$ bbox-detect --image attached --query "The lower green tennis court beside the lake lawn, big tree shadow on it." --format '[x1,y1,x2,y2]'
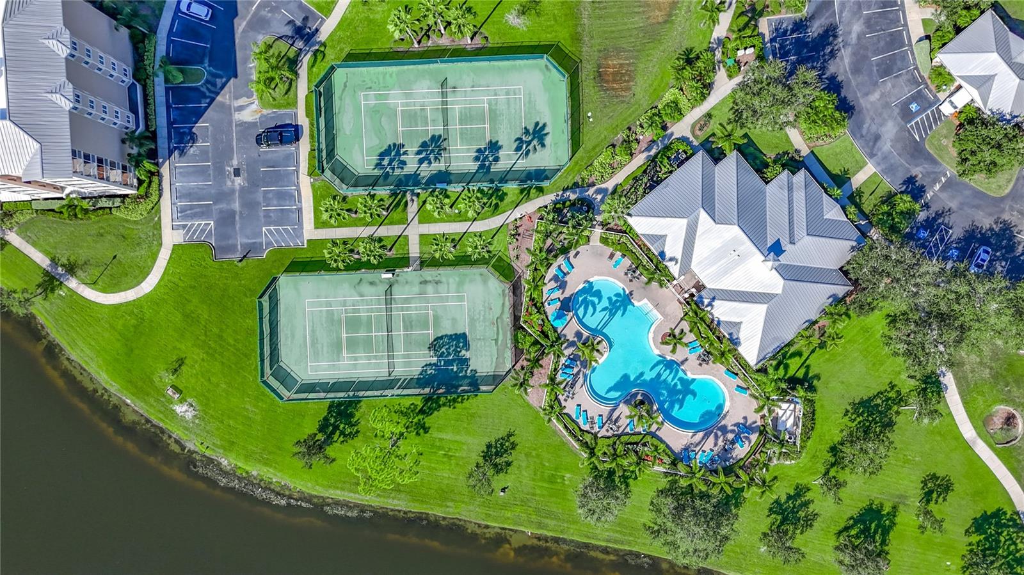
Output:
[261,268,513,400]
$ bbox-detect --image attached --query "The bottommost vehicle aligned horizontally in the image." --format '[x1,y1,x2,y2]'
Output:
[254,128,294,145]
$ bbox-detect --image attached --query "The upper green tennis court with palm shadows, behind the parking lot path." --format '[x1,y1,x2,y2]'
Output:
[318,58,570,193]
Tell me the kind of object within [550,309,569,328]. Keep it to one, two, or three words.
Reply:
umbrella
